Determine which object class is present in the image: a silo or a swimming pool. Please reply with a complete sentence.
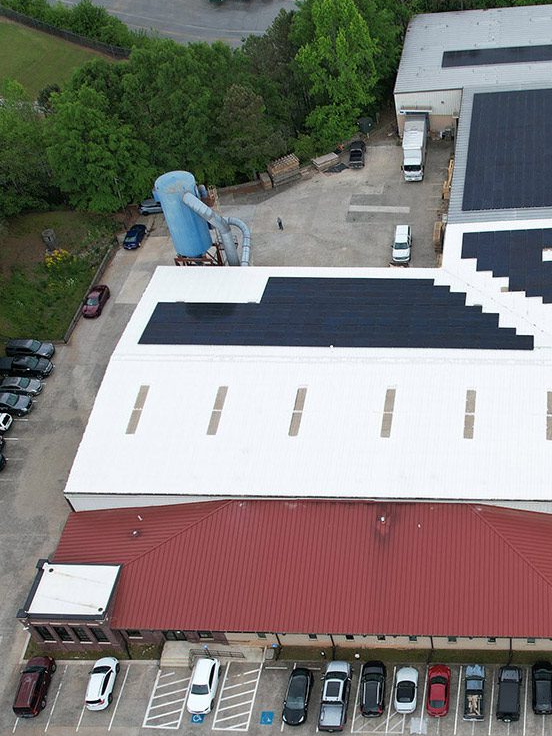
It is a silo that can be seen here.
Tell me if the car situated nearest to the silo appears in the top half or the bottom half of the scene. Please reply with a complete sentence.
You can find the car situated nearest to the silo in the top half.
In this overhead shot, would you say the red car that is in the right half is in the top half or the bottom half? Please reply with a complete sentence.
You can find the red car that is in the right half in the bottom half.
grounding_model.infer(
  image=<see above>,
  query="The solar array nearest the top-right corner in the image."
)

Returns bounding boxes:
[441,43,552,66]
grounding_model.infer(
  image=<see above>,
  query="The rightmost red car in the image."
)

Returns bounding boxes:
[425,664,453,721]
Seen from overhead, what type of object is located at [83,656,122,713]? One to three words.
car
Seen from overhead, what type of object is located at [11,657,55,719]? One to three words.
car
